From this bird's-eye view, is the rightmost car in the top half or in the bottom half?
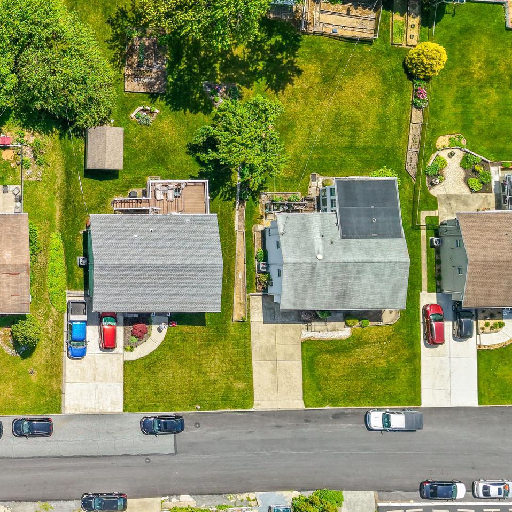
bottom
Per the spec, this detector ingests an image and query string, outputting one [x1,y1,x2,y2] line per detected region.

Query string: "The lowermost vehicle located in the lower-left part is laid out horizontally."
[80,491,127,512]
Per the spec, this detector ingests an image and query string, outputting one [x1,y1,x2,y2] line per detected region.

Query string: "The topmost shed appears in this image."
[84,125,123,170]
